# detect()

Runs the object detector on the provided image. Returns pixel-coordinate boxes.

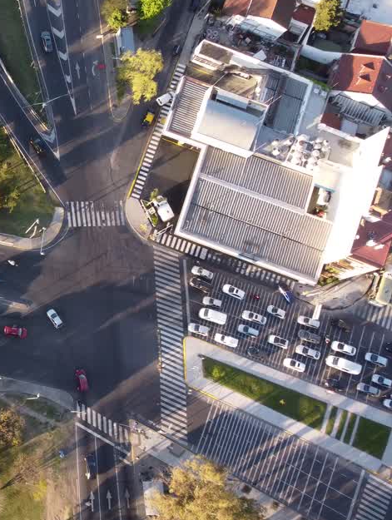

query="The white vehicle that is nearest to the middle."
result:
[190,264,215,280]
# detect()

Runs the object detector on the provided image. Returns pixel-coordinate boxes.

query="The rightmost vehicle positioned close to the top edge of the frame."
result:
[188,0,202,16]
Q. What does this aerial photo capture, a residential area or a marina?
residential area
